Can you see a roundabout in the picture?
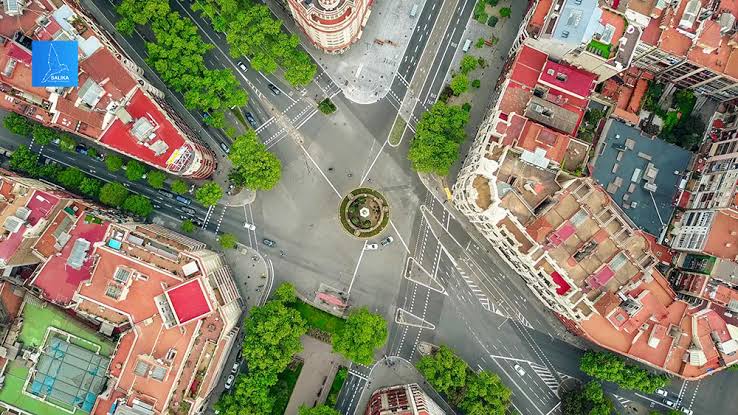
Yes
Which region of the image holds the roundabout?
center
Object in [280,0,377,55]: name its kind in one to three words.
building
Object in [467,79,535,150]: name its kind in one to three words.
building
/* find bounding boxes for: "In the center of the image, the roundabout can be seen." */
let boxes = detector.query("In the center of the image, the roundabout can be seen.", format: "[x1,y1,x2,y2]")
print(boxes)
[339,187,390,238]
